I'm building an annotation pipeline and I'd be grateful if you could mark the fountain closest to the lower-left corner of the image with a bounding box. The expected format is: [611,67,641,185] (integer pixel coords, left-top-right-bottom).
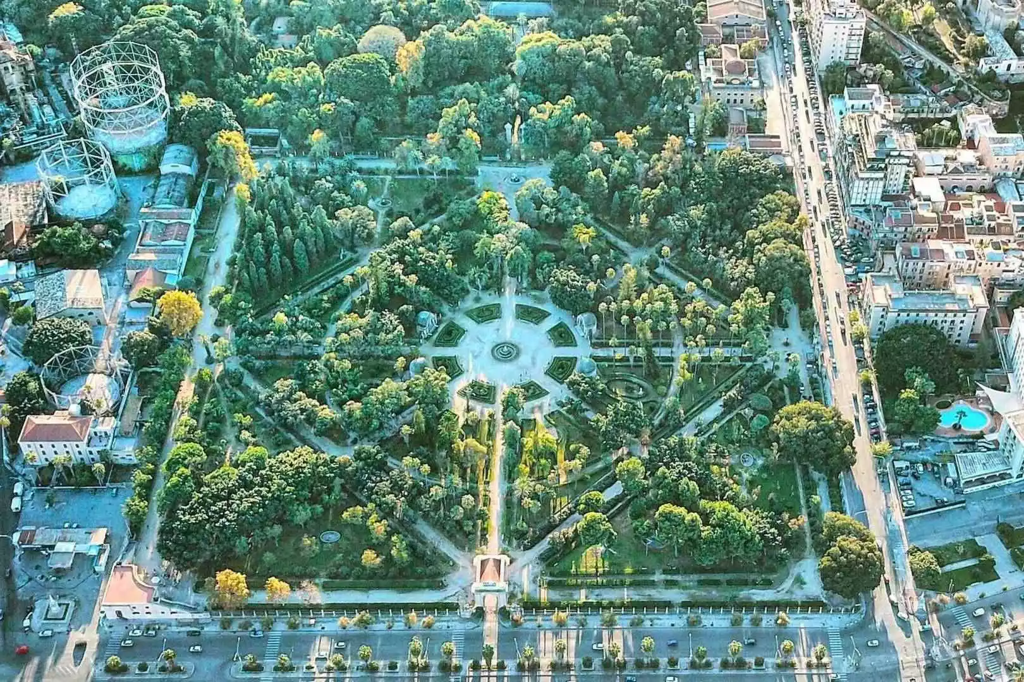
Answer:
[490,340,521,362]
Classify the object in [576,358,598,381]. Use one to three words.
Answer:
building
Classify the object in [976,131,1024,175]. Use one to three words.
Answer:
house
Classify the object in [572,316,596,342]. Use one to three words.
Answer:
building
